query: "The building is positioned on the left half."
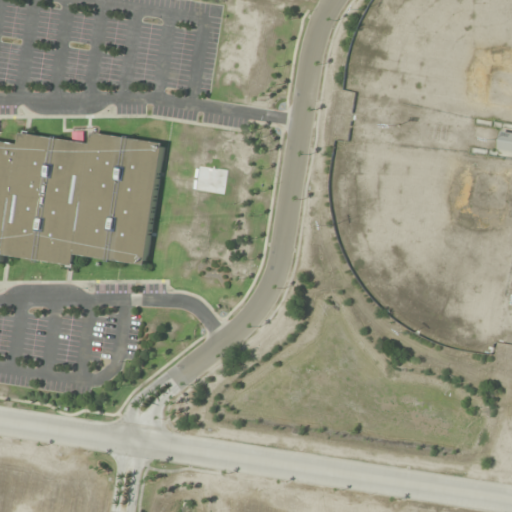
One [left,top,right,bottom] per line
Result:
[0,131,166,268]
